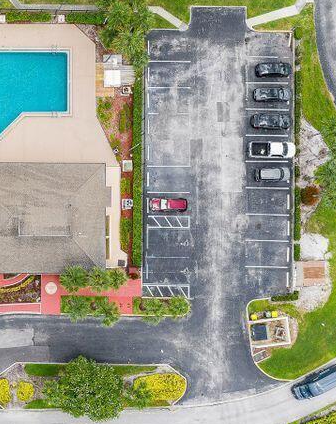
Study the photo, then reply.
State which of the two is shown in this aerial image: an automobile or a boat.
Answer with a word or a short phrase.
automobile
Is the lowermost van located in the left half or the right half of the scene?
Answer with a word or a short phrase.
right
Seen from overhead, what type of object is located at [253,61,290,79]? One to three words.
car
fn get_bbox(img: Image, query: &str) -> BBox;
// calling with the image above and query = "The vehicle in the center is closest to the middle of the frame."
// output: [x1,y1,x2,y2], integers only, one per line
[149,195,187,214]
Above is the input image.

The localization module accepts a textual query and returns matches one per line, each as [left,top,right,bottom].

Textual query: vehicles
[252,84,289,102]
[293,362,336,396]
[250,112,290,130]
[254,165,289,183]
[253,61,290,79]
[248,140,296,159]
[149,195,187,214]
